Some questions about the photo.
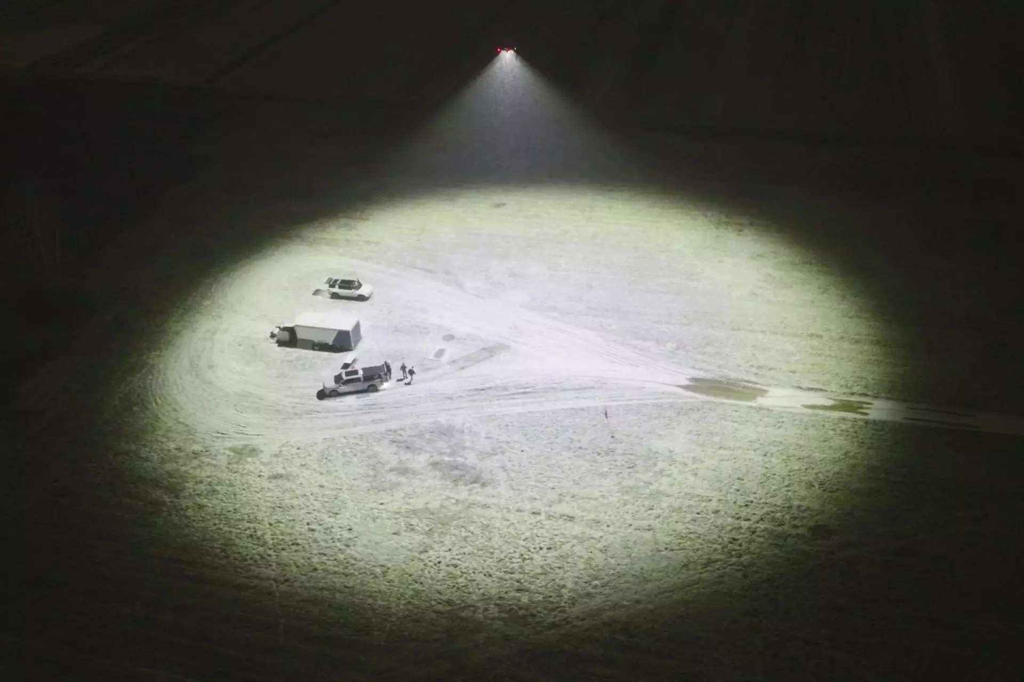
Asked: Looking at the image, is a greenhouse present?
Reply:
No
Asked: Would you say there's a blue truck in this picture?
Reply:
No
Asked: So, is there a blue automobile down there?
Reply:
No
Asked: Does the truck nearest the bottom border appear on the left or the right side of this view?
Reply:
left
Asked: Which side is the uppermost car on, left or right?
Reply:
left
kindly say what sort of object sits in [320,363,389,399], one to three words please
truck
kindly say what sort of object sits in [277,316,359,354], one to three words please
trailer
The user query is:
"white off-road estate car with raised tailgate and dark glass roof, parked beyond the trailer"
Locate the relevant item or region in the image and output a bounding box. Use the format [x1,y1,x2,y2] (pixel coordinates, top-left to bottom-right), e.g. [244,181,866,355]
[323,274,375,302]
